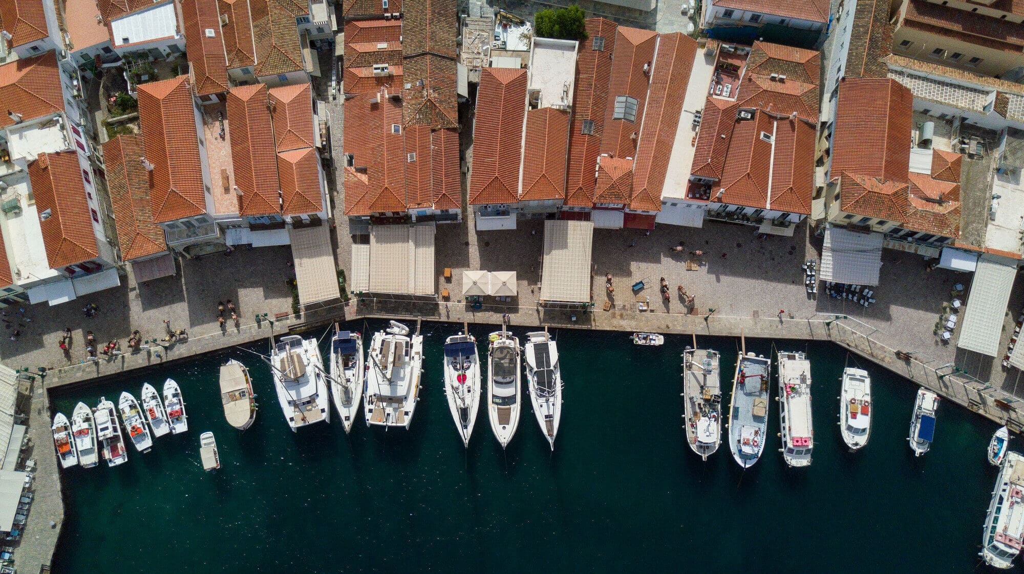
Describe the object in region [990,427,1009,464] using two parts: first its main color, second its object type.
white boat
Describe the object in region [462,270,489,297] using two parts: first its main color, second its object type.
white umbrella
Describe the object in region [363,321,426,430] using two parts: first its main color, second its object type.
white boat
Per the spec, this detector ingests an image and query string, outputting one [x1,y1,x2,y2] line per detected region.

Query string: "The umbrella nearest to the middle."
[490,271,517,297]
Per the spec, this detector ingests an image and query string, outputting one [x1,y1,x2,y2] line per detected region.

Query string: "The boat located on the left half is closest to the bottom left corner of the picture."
[200,432,220,473]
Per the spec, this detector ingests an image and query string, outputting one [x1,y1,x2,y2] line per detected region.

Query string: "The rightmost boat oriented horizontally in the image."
[630,333,664,345]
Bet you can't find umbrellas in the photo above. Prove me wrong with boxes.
[462,270,489,297]
[490,271,517,297]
